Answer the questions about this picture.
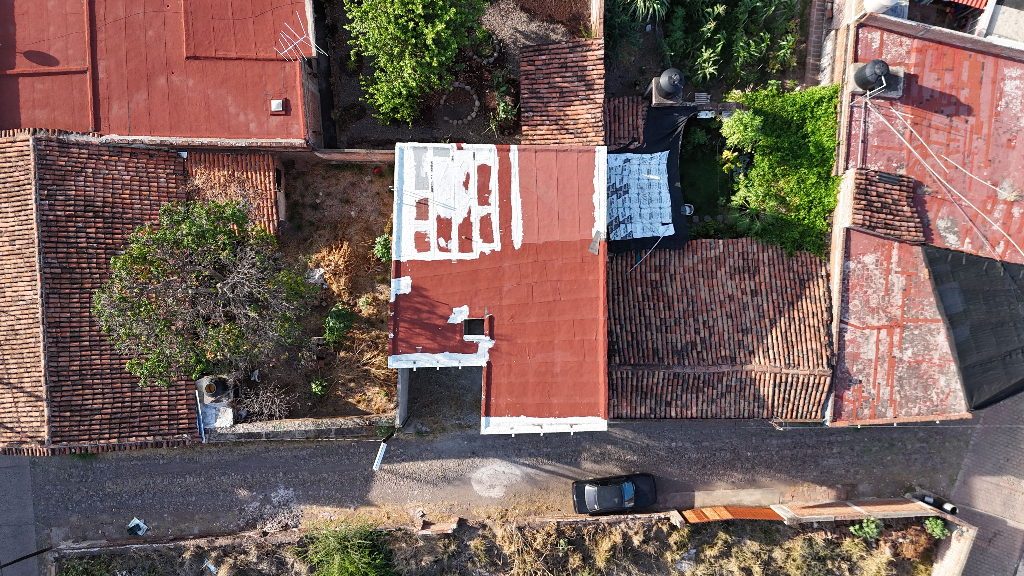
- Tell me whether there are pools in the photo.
No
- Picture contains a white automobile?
No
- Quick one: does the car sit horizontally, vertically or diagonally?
horizontally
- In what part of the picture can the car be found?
bottom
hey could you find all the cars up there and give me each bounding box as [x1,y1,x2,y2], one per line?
[569,471,660,515]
